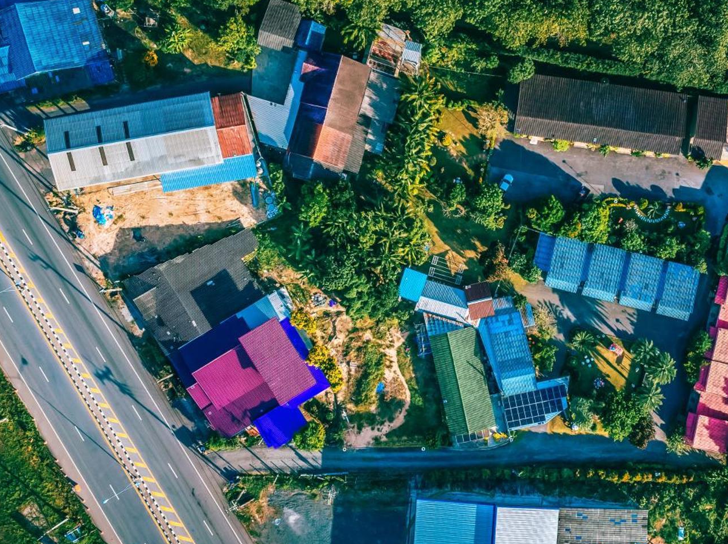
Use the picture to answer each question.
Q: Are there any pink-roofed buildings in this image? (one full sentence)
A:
Yes, a pink-roofed building appears in the view.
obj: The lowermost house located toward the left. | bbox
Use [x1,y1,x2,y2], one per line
[167,290,331,447]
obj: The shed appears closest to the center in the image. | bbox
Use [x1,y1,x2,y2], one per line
[399,268,428,303]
